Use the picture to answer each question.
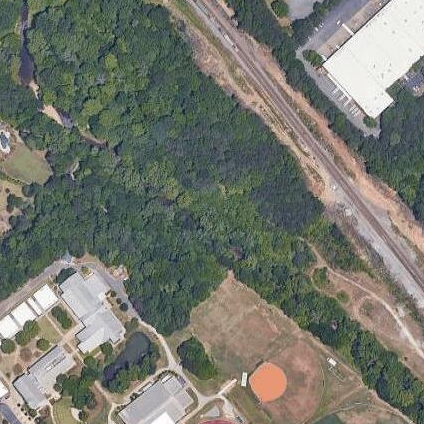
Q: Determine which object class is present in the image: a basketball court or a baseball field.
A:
baseball field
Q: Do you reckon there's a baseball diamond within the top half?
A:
No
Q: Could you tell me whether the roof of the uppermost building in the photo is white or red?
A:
white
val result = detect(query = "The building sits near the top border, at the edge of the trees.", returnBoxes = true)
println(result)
[322,0,424,117]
